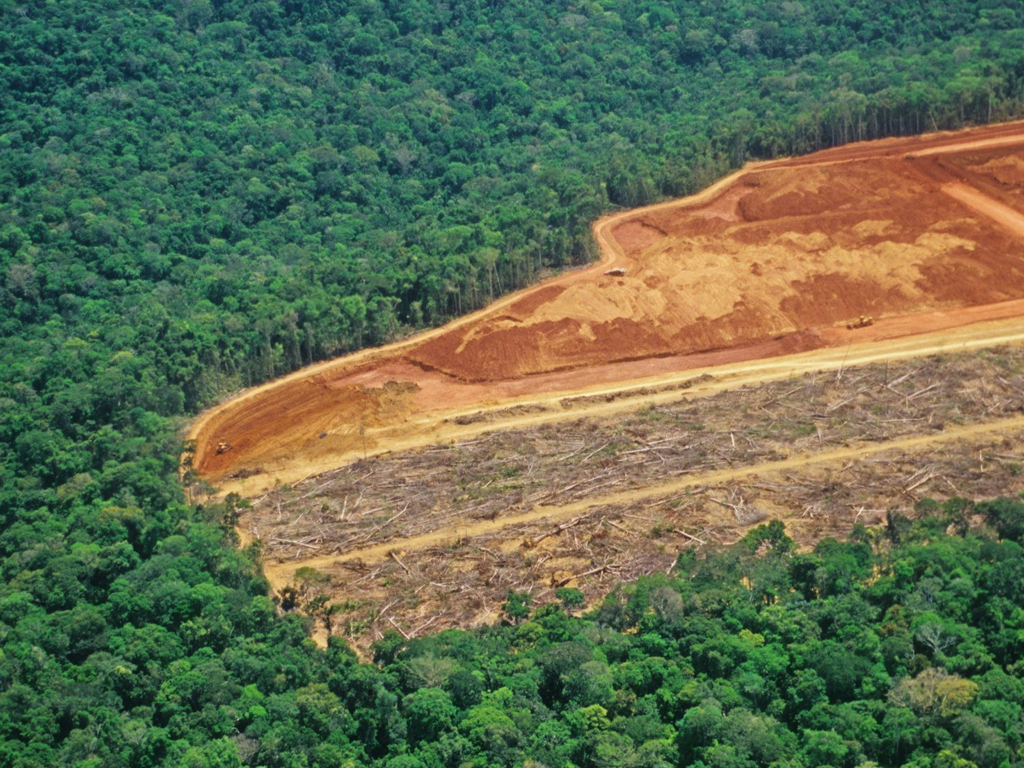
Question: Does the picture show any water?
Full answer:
No, water can't be seen anywhere here.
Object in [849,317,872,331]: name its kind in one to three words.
work vehicle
